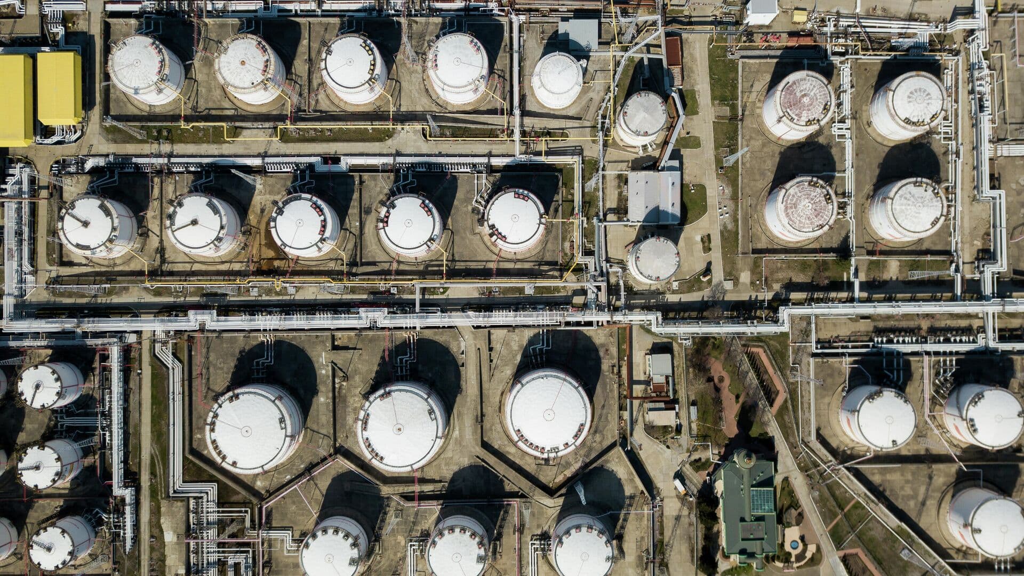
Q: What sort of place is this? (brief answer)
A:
industrial area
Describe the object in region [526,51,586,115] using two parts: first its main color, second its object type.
white storage tank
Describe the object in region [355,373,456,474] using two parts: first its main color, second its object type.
white storage tank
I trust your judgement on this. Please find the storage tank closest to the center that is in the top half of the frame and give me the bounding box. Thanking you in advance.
[476,186,553,262]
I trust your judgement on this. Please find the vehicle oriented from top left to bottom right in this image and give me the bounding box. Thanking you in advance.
[674,478,688,496]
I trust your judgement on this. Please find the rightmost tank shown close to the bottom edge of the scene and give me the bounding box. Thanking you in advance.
[938,478,1024,561]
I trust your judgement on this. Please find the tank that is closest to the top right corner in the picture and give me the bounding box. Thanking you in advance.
[858,70,948,150]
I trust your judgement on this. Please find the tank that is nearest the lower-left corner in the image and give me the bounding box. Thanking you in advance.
[0,509,28,567]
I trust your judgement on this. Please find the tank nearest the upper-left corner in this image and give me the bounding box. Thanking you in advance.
[106,34,193,113]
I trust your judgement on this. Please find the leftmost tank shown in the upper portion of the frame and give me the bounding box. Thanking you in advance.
[57,190,147,267]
